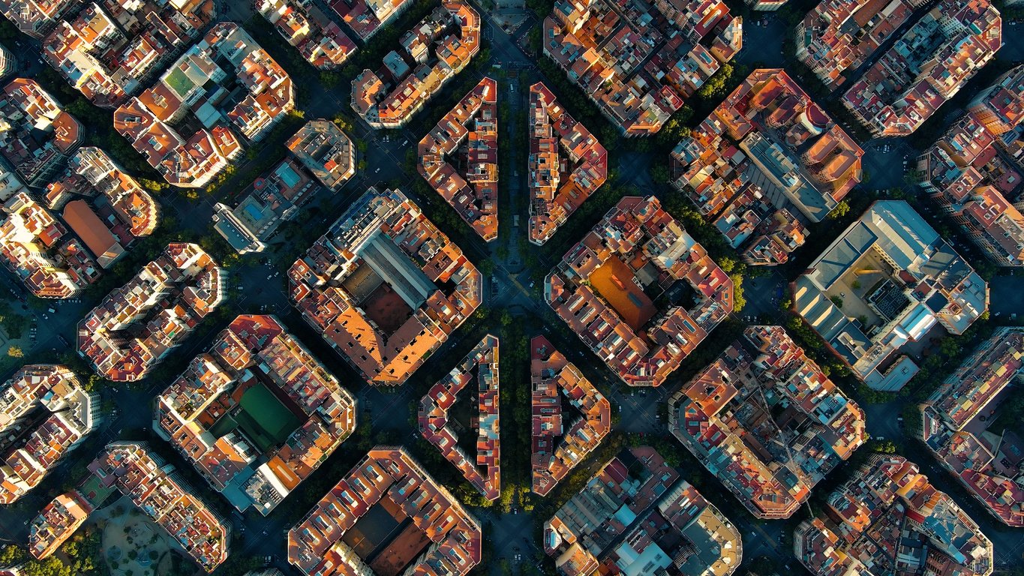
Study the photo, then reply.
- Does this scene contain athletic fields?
Yes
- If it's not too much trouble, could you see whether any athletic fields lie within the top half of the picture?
No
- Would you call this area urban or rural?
urban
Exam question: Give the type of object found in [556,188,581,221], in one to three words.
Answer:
house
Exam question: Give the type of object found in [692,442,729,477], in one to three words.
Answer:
building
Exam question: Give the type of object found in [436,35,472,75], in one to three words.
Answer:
building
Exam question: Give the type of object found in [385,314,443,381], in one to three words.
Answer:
house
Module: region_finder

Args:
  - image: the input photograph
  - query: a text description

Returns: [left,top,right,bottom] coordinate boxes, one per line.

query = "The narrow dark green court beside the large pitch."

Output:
[232,401,275,453]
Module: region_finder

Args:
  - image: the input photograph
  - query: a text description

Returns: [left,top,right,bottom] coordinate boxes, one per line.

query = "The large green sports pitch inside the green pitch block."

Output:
[240,381,304,447]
